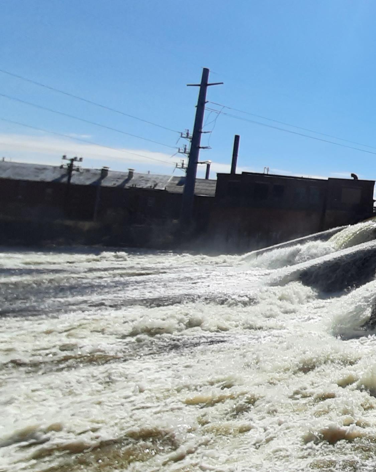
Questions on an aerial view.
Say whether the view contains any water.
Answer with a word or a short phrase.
Yes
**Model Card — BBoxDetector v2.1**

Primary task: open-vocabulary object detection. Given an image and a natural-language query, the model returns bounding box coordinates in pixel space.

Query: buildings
[0,157,185,238]
[213,134,376,254]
